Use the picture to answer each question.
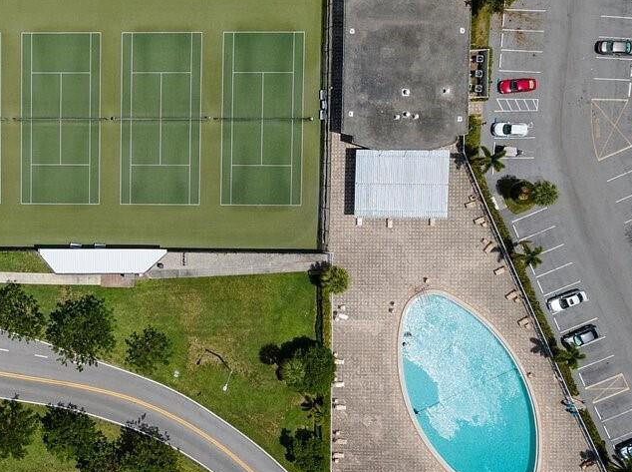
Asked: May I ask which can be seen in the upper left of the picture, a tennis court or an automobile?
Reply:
tennis court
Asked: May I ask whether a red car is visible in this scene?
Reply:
Yes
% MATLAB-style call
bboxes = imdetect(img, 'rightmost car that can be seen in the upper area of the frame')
[597,40,632,55]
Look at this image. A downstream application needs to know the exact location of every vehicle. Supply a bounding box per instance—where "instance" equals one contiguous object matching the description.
[614,439,632,458]
[562,324,599,348]
[546,286,586,312]
[498,77,537,95]
[597,40,632,55]
[491,120,529,138]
